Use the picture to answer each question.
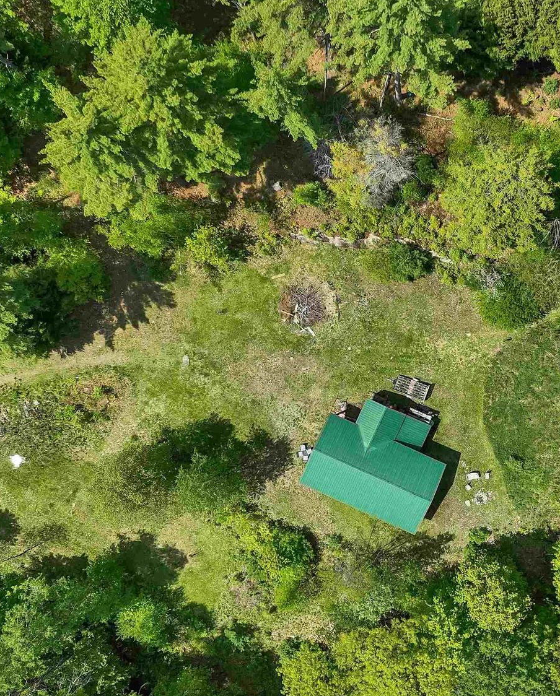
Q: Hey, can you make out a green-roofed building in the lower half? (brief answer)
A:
Yes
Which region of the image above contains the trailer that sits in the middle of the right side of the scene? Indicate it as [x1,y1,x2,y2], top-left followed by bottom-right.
[386,376,431,401]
